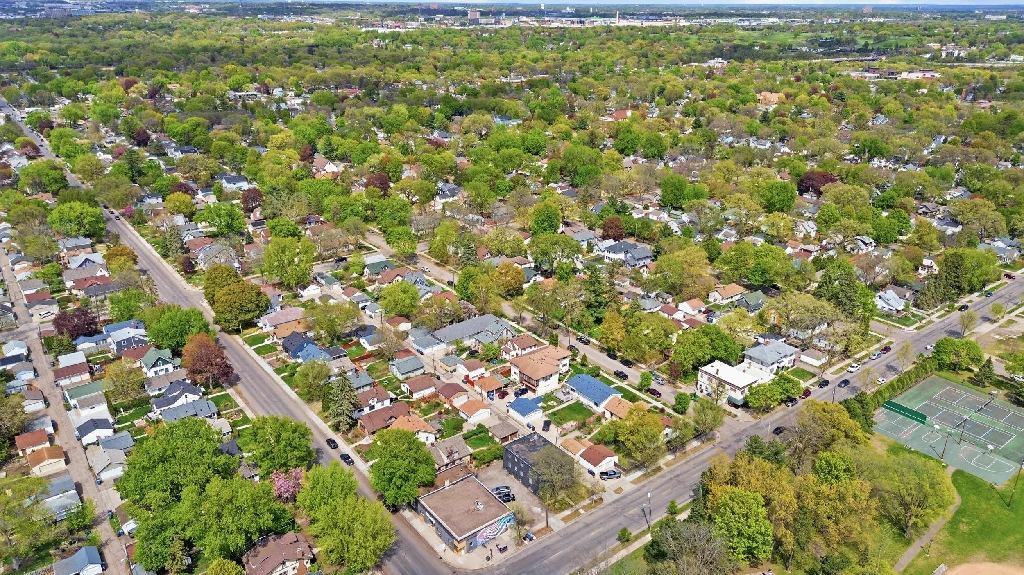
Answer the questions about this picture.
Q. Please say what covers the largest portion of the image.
trees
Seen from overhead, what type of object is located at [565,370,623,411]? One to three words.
house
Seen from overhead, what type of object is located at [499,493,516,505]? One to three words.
vehicle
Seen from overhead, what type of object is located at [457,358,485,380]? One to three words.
building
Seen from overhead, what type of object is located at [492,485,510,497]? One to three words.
vehicle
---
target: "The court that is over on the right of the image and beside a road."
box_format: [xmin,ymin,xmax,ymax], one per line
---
[868,373,1024,487]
